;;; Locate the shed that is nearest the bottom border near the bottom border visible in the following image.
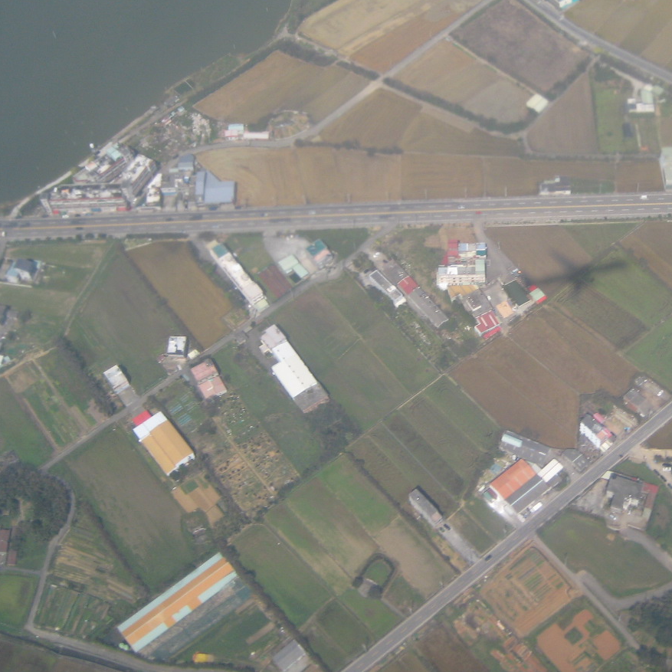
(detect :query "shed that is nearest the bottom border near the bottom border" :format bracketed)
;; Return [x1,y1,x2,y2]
[274,642,305,672]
